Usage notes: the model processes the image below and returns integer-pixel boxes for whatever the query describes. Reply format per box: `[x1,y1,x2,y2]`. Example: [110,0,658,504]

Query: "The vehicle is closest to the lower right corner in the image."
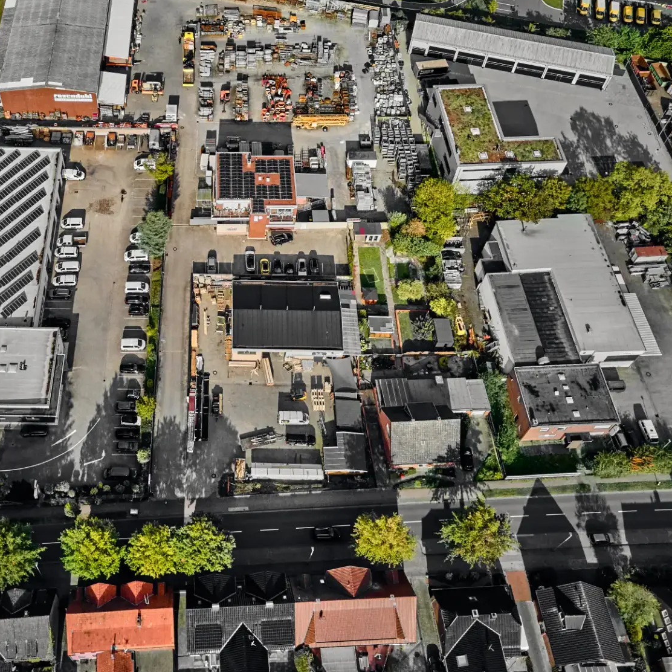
[585,530,618,546]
